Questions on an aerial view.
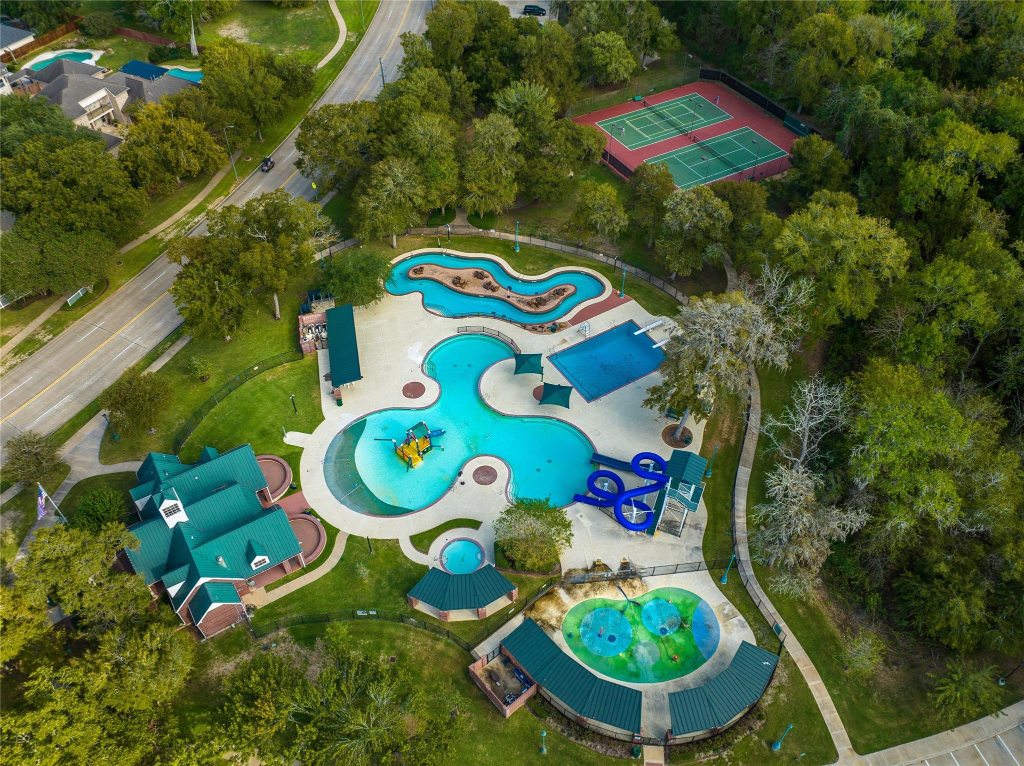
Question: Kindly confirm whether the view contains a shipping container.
No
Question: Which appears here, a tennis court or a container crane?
tennis court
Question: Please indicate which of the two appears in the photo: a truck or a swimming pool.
swimming pool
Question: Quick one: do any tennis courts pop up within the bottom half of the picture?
No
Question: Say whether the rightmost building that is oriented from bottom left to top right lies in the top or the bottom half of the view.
bottom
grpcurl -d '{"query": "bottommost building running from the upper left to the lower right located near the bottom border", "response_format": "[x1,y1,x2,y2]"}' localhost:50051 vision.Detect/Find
[501,617,644,735]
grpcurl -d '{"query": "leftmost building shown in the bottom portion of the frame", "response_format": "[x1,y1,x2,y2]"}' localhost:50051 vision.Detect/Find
[125,440,307,637]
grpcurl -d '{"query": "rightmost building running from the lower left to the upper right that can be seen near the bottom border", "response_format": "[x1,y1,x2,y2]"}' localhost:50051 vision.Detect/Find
[663,641,779,744]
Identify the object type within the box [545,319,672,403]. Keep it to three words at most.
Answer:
swimming pool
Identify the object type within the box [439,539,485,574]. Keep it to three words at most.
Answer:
swimming pool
